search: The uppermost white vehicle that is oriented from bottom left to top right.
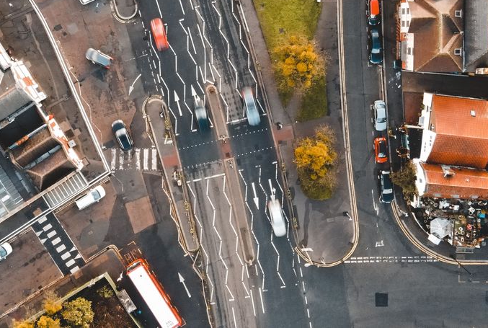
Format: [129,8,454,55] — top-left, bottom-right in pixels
[72,184,107,213]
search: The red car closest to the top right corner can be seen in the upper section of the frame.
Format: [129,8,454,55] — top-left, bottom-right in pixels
[366,0,382,24]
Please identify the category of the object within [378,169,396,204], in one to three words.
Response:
car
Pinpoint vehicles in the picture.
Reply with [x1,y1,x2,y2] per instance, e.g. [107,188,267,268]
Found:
[0,239,16,260]
[192,97,211,133]
[267,198,286,233]
[366,0,382,24]
[372,100,389,130]
[85,46,115,69]
[151,18,168,48]
[241,88,260,123]
[117,257,180,328]
[372,136,388,163]
[110,117,133,152]
[72,184,107,213]
[378,169,396,204]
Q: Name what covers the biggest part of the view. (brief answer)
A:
paved ground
